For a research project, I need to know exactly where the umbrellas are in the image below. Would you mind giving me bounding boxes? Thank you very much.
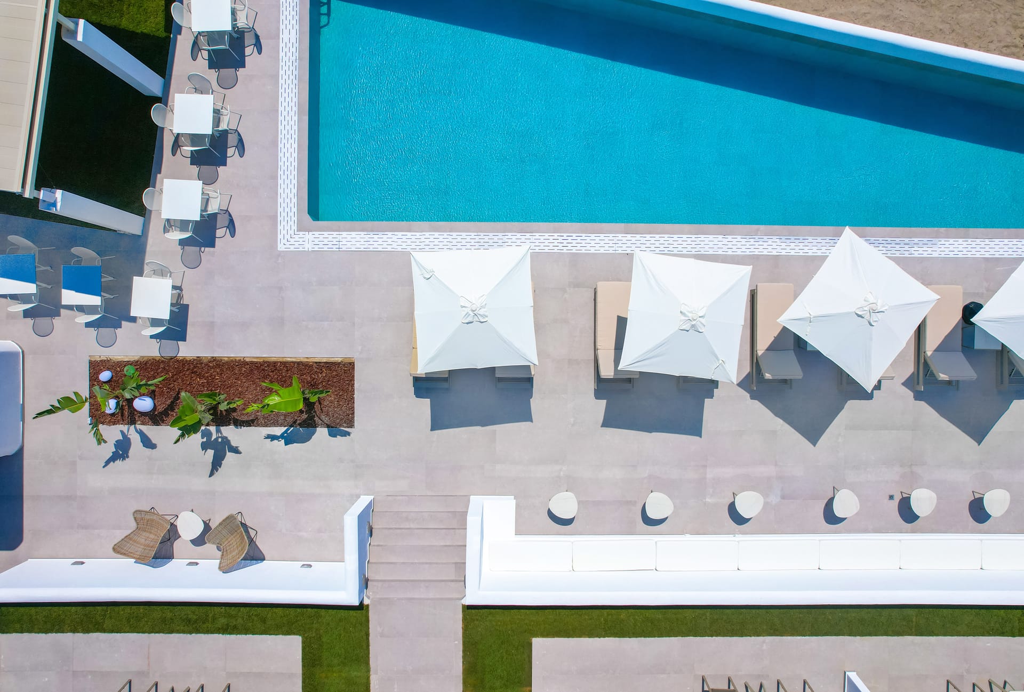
[411,245,538,372]
[618,251,752,384]
[778,227,940,392]
[961,249,1024,361]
